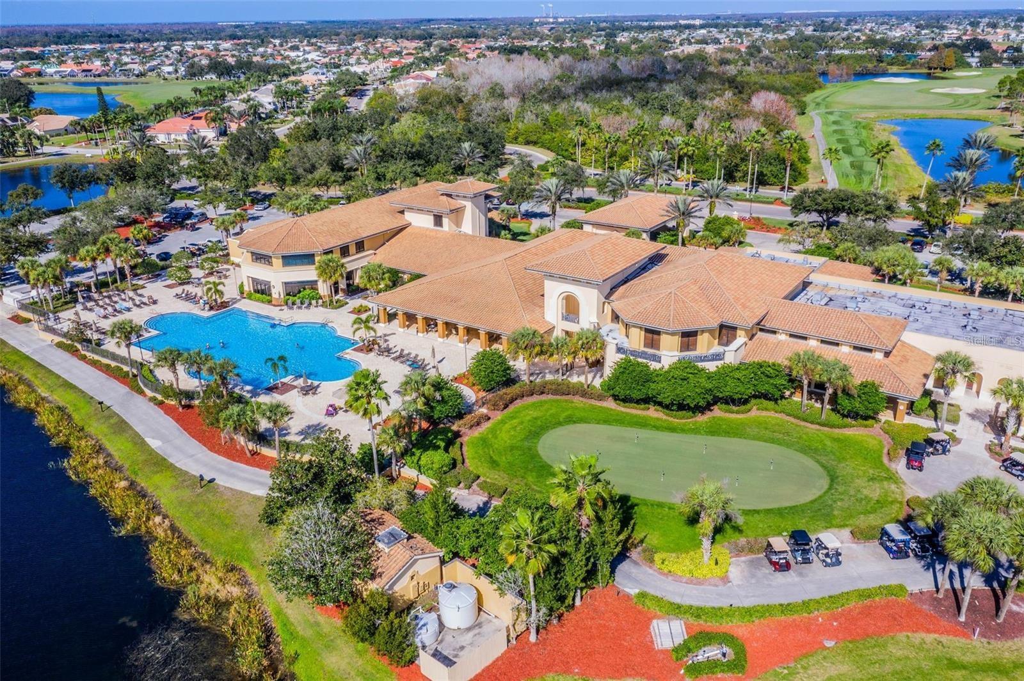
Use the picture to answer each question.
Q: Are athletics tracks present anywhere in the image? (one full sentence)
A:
No, there's no athletics track here.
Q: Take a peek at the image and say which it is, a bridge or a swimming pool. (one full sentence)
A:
Of the two, only a swimming pool appears.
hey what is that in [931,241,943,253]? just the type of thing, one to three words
vehicle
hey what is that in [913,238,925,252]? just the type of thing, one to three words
vehicle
